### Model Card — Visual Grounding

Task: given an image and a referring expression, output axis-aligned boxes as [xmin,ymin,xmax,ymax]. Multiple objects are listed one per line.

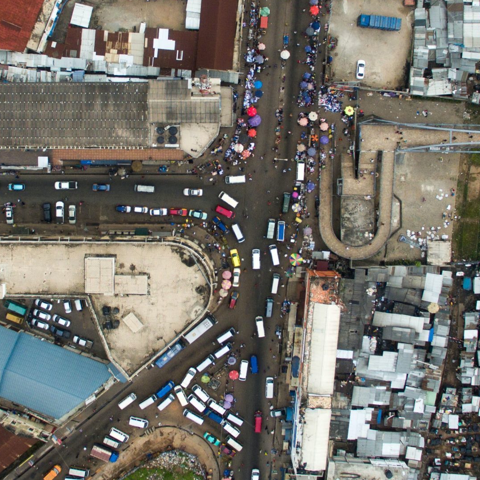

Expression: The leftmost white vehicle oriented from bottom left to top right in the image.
[118,391,139,411]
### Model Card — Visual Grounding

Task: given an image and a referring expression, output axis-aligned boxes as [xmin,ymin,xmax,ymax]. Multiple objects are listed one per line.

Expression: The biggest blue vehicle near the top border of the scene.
[359,17,399,30]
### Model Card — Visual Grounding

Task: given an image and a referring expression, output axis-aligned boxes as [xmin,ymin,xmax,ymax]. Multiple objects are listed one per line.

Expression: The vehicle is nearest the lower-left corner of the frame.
[43,463,63,480]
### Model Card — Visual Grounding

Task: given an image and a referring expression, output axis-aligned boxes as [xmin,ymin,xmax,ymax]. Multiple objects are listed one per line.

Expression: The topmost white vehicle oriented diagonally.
[218,190,239,209]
